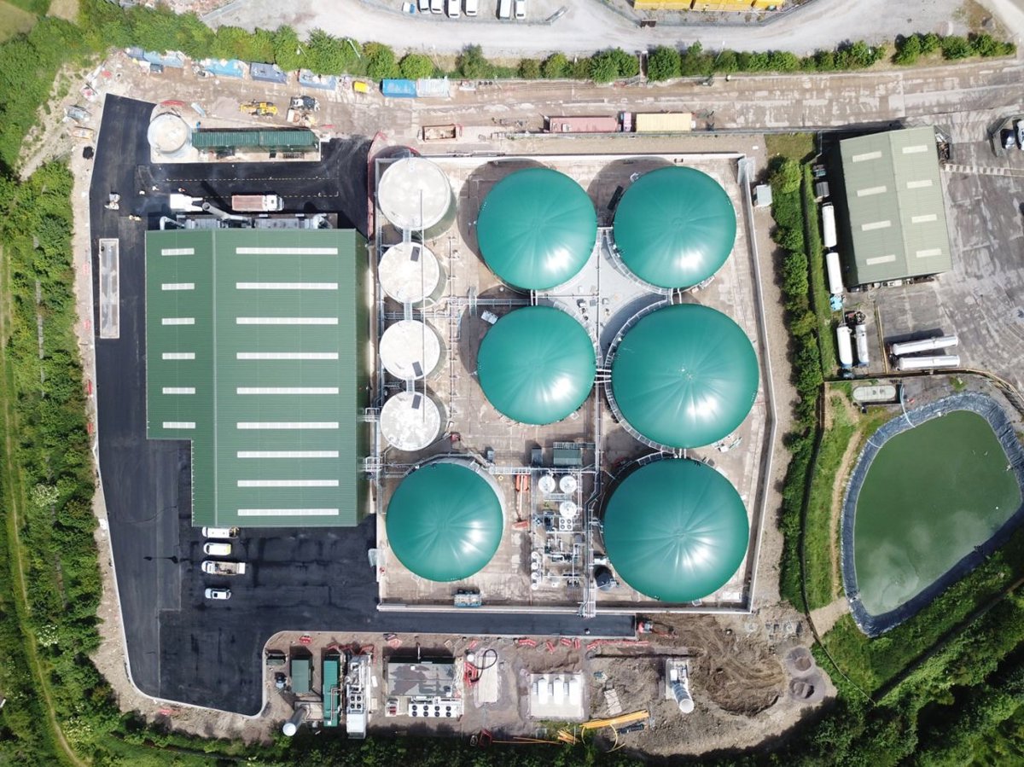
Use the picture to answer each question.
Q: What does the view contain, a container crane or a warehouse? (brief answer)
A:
warehouse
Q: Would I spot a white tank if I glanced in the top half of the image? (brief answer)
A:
Yes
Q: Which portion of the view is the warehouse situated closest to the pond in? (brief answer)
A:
top right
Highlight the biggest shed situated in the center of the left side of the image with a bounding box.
[145,228,367,528]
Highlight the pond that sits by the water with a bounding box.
[838,389,1024,638]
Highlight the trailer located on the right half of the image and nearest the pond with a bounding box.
[894,356,960,371]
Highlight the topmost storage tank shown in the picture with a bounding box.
[147,111,201,164]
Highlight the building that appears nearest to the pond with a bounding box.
[826,126,952,289]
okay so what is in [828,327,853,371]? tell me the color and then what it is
white trailer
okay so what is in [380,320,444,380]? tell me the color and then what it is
white storage tank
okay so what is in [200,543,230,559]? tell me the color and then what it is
white vehicle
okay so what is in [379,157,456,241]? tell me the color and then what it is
white storage tank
